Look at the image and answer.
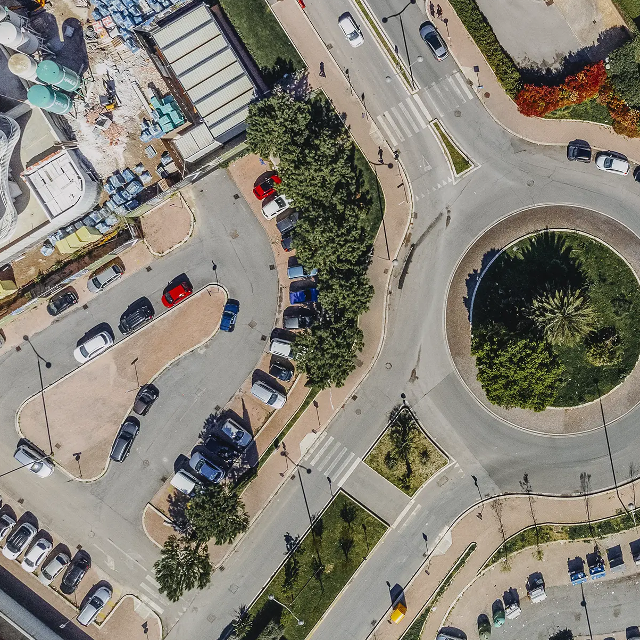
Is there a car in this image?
Yes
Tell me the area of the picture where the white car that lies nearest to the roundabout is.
top right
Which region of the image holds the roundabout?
right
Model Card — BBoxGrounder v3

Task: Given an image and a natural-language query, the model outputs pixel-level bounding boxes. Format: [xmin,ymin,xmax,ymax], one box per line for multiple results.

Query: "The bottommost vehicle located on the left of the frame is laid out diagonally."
[77,583,114,630]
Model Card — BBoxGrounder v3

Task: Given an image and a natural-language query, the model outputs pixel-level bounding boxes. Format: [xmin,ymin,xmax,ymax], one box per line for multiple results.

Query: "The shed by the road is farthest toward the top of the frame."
[148,0,264,141]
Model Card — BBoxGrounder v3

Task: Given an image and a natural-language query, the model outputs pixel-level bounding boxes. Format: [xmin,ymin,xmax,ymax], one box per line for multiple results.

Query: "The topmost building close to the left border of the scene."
[0,85,108,267]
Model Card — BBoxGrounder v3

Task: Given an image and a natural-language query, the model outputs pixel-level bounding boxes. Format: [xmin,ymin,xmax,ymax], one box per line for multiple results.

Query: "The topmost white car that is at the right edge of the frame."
[593,153,632,176]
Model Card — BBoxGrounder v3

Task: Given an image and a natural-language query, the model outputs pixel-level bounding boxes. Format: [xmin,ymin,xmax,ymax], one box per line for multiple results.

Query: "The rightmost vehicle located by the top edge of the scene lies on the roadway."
[419,22,449,63]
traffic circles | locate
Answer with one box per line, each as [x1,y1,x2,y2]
[443,203,640,436]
